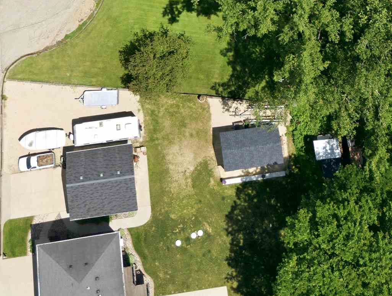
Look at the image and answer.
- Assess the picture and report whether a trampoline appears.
No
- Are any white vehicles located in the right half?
No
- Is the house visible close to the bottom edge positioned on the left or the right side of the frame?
left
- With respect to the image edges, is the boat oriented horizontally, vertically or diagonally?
horizontally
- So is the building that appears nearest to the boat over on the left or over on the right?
left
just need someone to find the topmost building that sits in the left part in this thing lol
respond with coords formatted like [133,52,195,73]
[66,142,138,221]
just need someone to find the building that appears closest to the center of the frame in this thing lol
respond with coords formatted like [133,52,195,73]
[220,126,283,172]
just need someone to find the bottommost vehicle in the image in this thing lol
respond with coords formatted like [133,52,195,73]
[18,150,57,173]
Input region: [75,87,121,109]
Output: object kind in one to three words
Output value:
trailer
